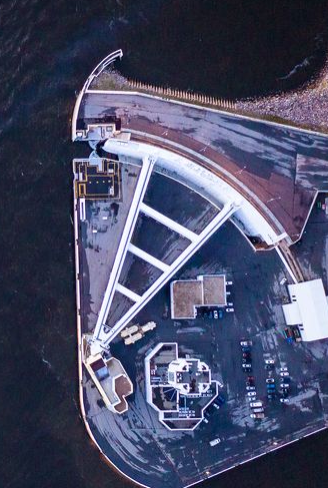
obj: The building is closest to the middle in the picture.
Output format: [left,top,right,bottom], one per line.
[171,275,226,318]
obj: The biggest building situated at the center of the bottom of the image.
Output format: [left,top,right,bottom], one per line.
[145,344,223,429]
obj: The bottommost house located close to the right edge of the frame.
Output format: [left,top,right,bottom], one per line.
[277,278,328,342]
